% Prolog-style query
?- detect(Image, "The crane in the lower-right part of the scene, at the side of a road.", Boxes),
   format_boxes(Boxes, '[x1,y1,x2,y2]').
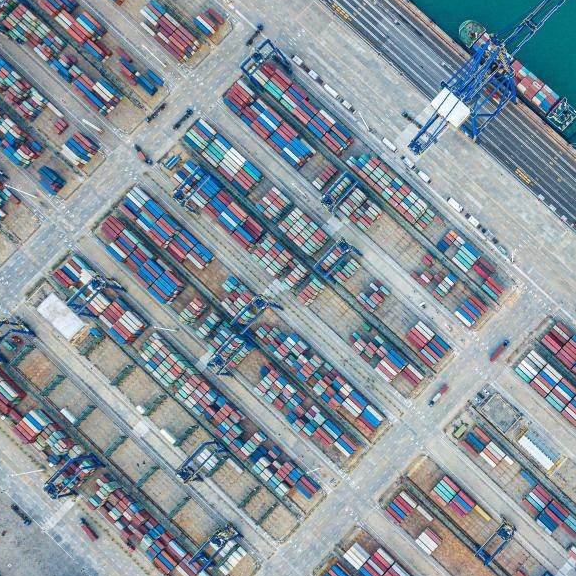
[473,515,515,567]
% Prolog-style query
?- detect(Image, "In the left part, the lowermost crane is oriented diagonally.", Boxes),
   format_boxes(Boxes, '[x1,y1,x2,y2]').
[188,522,243,574]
